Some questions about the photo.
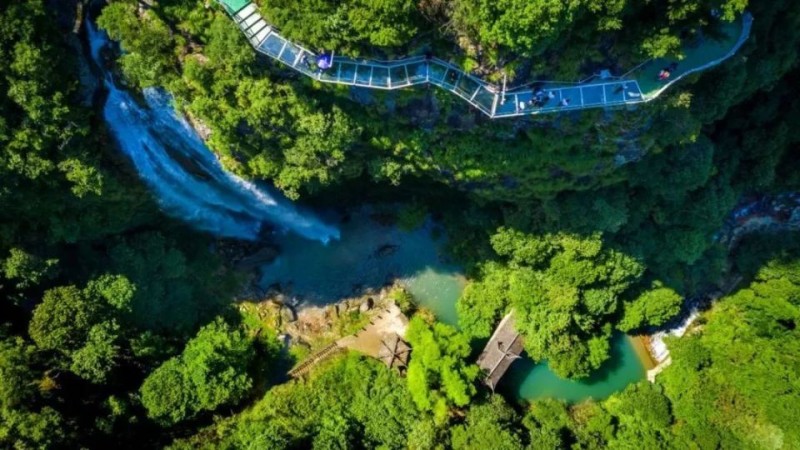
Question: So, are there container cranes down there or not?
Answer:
No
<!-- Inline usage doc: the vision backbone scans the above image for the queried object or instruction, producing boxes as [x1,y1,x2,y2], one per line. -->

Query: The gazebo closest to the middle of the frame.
[375,331,411,371]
